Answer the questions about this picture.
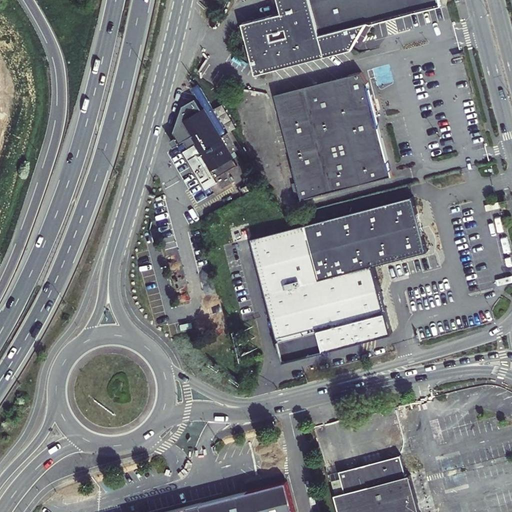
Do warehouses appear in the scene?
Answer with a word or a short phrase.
Yes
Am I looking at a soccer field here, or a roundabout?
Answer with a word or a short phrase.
roundabout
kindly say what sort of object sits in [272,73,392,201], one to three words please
warehouse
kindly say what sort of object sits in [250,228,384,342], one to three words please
building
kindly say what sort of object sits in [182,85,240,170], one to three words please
building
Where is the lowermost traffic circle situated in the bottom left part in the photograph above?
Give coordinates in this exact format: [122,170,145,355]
[50,330,172,450]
